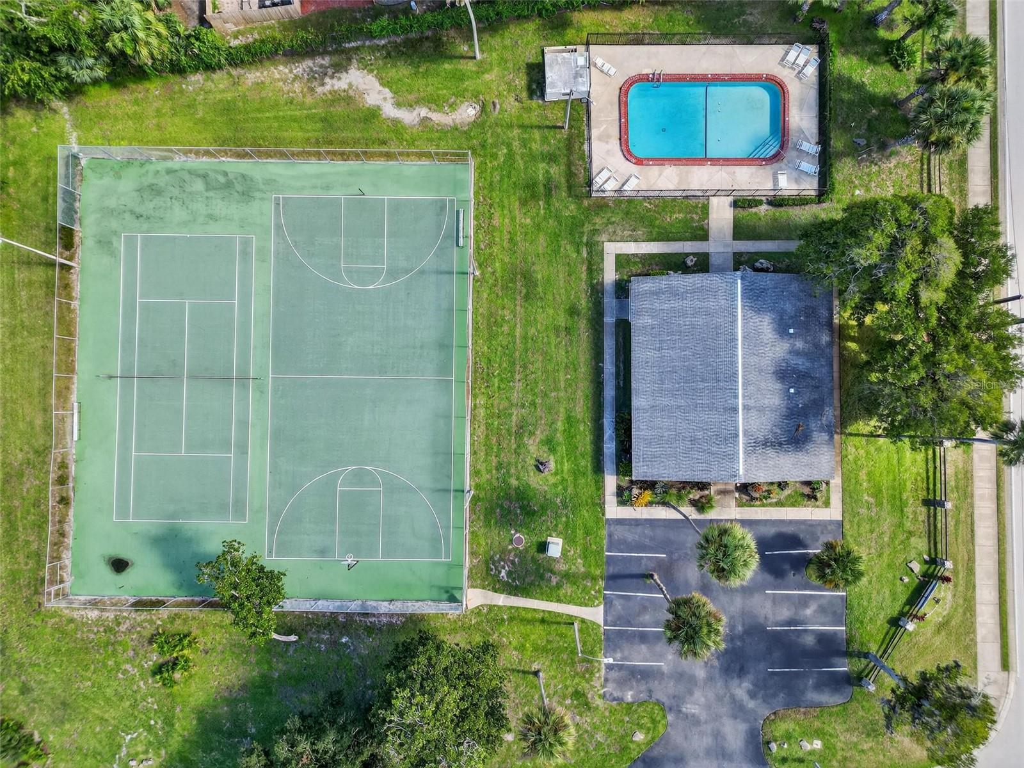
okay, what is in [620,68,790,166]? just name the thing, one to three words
swimming pool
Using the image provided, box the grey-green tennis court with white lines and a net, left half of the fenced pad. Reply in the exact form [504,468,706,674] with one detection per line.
[114,234,254,523]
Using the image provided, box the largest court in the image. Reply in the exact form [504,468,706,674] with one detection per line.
[266,196,456,561]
